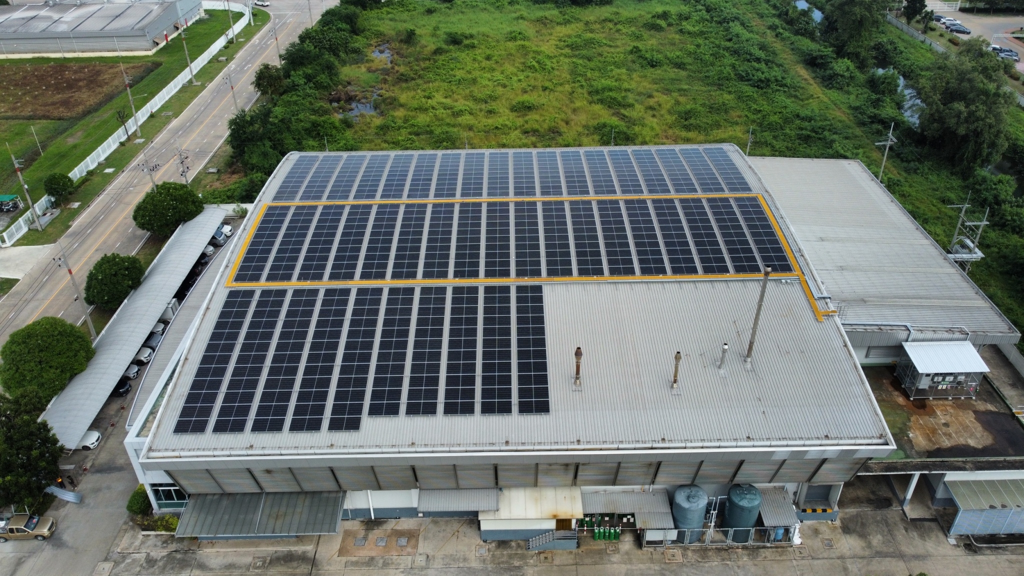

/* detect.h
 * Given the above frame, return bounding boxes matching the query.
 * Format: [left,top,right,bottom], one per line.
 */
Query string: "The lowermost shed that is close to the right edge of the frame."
[927,478,1024,543]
